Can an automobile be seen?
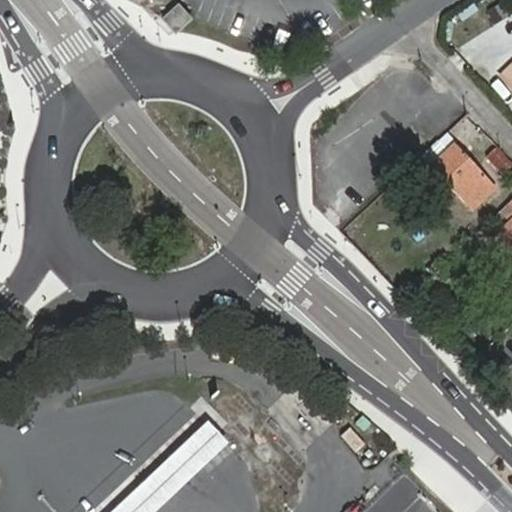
Yes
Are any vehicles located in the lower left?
Yes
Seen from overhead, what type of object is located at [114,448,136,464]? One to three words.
car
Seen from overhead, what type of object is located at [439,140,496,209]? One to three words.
house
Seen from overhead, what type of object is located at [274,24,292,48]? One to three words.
vehicle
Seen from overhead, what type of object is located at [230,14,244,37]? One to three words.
car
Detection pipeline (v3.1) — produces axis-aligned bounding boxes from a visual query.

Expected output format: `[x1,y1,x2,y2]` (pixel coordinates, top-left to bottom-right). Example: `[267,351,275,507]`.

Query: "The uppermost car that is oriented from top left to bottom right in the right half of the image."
[314,12,332,36]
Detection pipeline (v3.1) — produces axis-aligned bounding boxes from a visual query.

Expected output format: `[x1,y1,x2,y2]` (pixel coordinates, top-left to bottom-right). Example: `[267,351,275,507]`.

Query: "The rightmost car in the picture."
[440,378,461,400]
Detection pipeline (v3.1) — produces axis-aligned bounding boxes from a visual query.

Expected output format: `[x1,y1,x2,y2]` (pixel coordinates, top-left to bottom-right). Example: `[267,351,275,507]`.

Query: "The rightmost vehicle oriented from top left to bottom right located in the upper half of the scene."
[344,184,365,206]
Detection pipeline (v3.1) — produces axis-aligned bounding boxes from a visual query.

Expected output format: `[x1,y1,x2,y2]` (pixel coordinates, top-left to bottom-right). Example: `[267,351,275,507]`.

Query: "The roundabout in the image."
[24,34,300,322]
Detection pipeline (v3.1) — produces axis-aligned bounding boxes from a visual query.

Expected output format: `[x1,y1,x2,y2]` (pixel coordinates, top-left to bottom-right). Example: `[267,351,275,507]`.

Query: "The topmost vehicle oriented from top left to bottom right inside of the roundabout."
[230,116,248,138]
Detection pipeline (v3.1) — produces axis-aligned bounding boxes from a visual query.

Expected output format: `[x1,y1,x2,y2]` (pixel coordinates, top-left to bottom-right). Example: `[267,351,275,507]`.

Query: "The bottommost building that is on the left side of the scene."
[112,422,228,512]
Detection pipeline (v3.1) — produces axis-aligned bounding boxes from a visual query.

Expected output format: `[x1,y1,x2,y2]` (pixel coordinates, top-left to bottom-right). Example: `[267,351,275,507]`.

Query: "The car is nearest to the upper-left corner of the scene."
[4,13,20,34]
